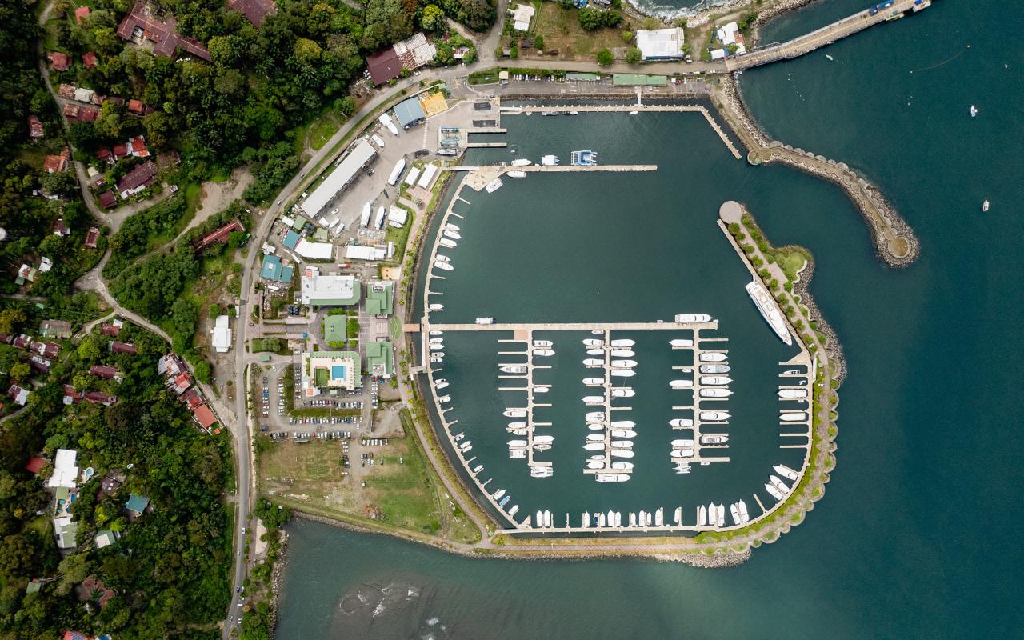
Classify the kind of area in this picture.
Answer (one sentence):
It's a port.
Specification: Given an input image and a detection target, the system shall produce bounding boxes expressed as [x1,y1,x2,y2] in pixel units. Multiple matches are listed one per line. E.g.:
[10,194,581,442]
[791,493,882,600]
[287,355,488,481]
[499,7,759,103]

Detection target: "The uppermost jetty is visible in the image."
[722,0,951,72]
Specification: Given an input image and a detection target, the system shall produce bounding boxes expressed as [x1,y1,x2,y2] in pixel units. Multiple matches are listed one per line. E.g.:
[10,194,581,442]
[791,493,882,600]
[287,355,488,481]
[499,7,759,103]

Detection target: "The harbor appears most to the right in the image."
[484,206,845,566]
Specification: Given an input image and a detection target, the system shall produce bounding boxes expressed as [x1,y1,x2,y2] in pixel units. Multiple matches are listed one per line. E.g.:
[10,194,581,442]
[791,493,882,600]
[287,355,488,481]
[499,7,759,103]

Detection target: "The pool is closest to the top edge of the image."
[332,366,346,380]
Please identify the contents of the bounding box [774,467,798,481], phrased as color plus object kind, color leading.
white boat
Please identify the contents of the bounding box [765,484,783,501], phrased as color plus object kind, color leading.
white boat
